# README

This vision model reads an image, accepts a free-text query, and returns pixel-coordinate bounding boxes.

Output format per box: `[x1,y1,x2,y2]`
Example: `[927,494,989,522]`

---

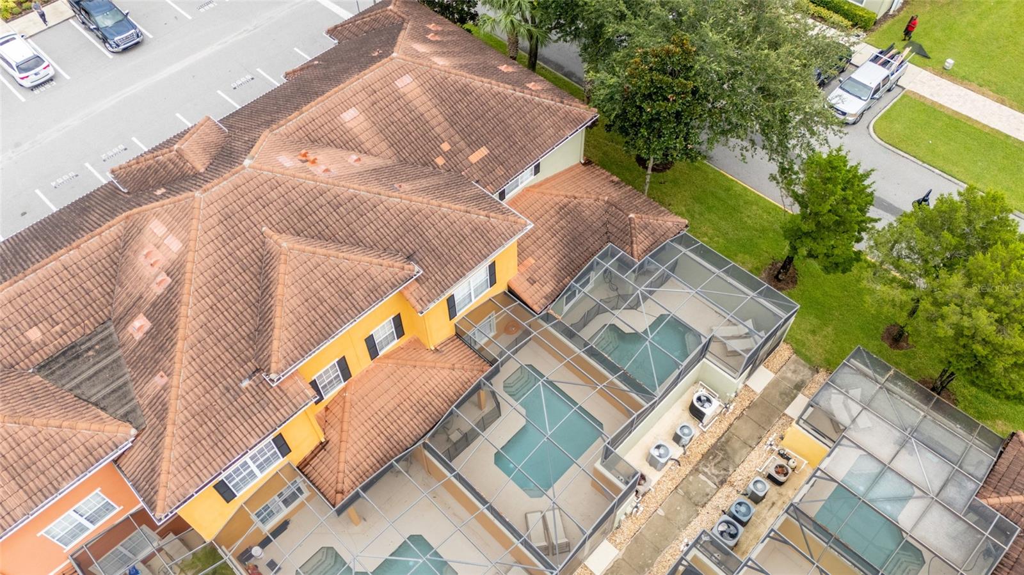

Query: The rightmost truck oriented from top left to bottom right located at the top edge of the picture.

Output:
[72,0,144,50]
